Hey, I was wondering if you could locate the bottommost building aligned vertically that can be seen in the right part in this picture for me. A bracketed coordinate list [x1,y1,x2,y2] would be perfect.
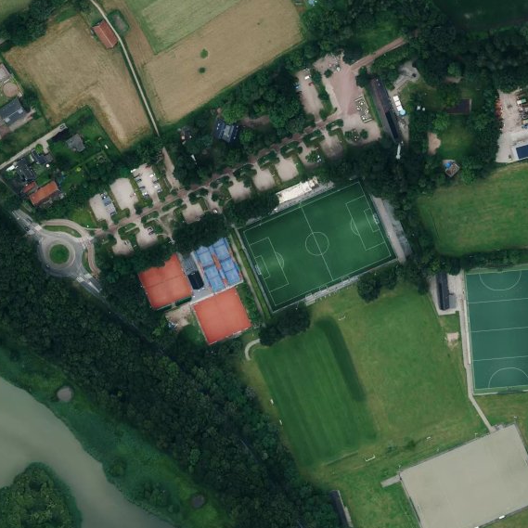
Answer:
[437,273,450,310]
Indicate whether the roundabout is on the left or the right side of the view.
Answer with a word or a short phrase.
left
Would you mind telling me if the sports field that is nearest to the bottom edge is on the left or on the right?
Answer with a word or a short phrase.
right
